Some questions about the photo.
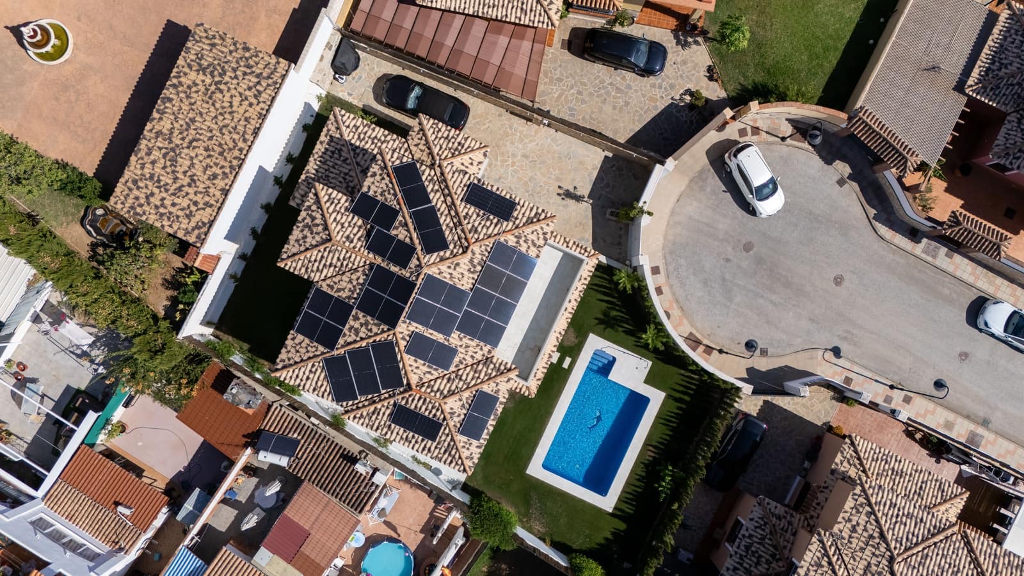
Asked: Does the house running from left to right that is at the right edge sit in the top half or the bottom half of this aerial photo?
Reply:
bottom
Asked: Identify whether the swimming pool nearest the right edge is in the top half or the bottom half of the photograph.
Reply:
bottom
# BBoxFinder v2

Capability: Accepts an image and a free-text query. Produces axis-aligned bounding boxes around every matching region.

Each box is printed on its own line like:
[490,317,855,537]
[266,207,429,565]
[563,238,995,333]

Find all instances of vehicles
[382,74,469,130]
[728,137,788,219]
[704,412,773,498]
[582,21,671,79]
[981,305,1024,353]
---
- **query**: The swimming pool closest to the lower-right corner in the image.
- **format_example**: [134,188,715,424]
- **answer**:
[526,334,665,512]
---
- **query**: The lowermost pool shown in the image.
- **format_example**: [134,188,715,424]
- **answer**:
[359,528,419,576]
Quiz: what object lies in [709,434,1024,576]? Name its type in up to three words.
house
